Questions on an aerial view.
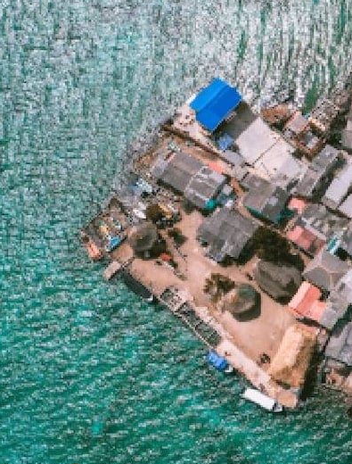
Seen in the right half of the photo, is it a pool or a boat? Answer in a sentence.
There is a boat in the right half of the photo.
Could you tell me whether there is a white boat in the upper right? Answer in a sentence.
No, no white boat appears in the upper right.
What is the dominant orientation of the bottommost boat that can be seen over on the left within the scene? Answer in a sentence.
From this overhead view, the bottommost boat that can be seen over on the left appears to run at an angle.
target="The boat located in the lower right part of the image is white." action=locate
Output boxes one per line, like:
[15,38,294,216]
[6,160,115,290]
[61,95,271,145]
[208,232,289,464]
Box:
[240,385,283,410]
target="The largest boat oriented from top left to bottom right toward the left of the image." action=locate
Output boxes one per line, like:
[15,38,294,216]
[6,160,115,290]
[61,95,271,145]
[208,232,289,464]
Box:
[120,267,154,299]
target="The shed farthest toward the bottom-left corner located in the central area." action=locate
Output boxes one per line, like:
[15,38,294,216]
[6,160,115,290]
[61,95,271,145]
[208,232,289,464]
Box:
[130,223,161,252]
